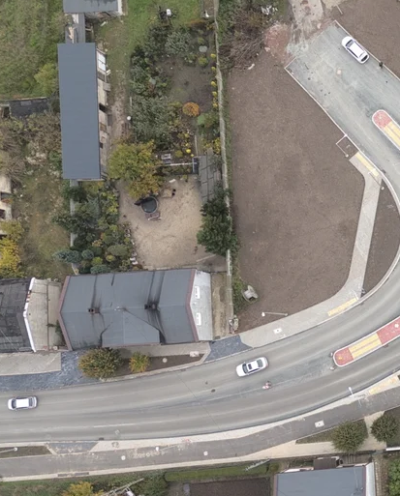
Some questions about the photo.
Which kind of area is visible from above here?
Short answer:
residential area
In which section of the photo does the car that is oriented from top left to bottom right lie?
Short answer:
top right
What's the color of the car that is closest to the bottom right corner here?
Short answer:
white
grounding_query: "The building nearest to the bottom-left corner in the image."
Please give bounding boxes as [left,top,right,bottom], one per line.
[0,278,50,353]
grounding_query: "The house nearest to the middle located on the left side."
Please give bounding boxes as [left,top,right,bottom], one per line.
[57,268,211,351]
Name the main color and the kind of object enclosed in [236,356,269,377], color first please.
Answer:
white car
